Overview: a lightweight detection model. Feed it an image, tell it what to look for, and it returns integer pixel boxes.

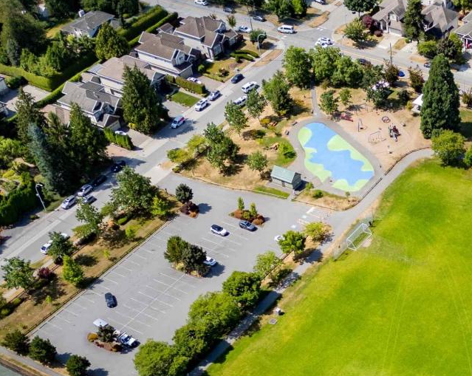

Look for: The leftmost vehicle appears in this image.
[37,239,50,254]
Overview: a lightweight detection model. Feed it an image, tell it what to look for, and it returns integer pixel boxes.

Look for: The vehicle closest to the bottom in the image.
[114,332,138,347]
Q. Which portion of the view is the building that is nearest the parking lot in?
center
